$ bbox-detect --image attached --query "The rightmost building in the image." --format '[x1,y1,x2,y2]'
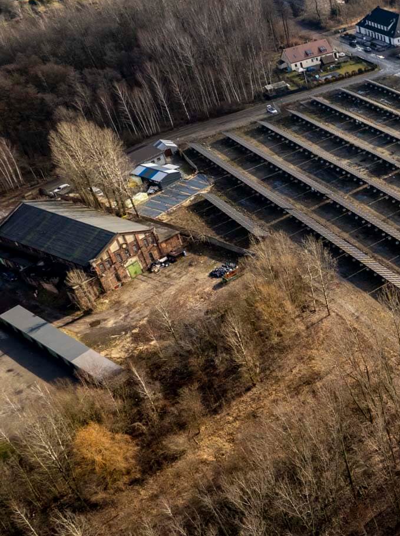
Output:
[352,4,400,48]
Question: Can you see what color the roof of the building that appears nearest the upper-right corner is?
black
